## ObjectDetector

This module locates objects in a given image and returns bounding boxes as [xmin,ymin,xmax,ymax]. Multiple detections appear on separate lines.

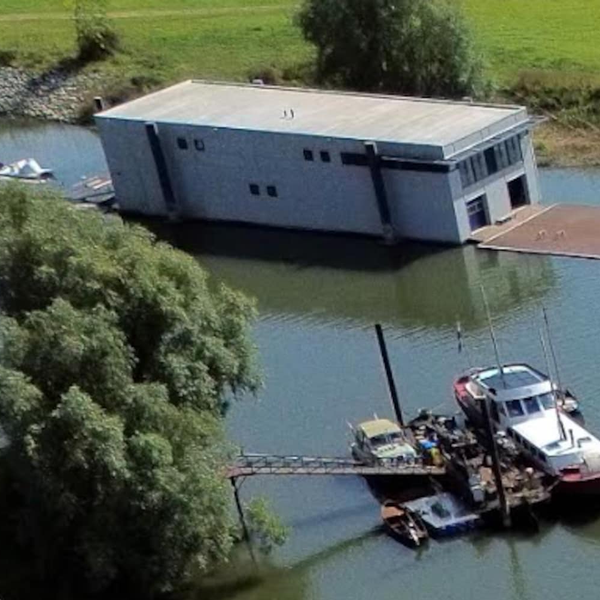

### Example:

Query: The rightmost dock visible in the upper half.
[63,174,116,201]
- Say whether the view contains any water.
Yes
